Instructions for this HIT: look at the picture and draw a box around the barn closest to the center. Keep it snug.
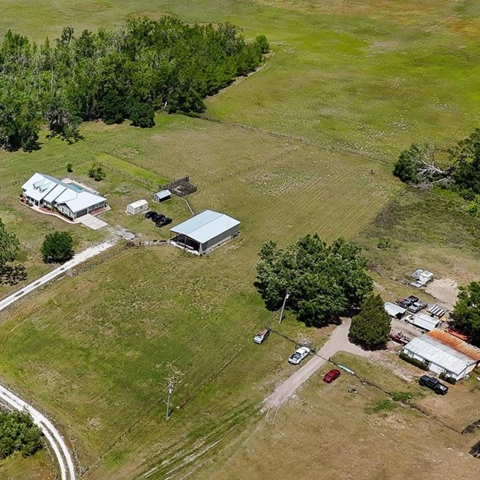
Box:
[168,209,242,257]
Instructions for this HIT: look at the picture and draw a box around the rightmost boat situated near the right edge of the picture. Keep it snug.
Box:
[440,325,476,342]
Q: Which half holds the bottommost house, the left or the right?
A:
right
